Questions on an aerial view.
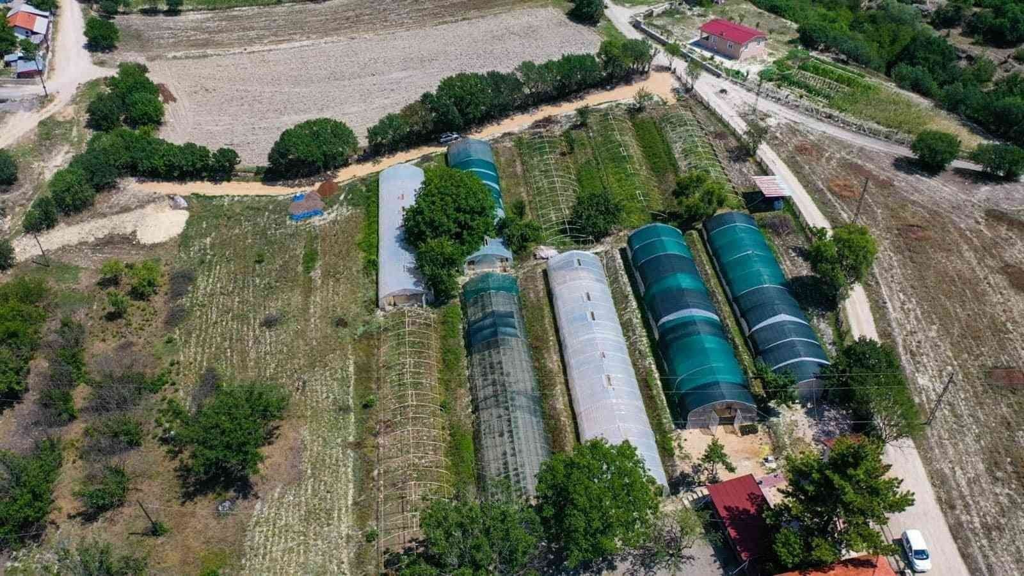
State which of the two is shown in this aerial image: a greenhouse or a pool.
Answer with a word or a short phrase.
greenhouse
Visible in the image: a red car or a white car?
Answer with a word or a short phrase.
white car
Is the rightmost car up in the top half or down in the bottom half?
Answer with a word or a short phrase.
bottom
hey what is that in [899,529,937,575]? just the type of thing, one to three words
car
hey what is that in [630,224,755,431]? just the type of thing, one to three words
greenhouse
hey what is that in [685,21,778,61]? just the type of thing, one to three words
house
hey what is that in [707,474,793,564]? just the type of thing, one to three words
shed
